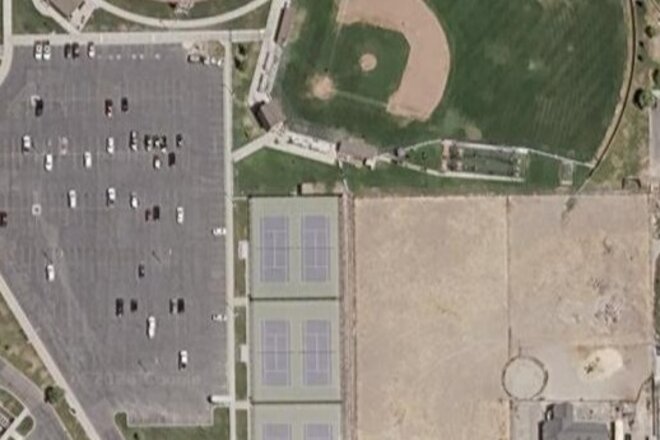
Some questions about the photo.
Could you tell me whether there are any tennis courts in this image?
Yes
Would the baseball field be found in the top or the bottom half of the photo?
top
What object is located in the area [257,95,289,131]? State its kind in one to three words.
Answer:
building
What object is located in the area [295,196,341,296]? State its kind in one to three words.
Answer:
tennis court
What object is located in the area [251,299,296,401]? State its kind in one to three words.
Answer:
tennis court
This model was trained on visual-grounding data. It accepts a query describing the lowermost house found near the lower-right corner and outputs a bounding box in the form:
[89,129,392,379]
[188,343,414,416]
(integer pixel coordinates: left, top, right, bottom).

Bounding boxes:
[541,401,610,440]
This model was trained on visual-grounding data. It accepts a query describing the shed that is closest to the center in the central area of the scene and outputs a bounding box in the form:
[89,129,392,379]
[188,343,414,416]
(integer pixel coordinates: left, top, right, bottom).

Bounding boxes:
[298,181,325,194]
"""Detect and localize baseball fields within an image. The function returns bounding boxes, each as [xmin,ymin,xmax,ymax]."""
[272,0,635,167]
